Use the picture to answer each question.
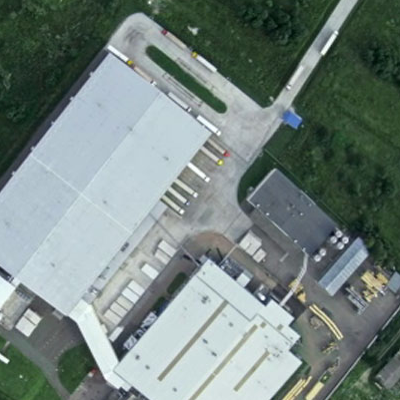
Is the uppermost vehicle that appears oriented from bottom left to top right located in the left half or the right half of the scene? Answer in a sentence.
You can find the uppermost vehicle that appears oriented from bottom left to top right on the right side of the picture.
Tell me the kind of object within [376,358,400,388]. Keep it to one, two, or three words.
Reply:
barn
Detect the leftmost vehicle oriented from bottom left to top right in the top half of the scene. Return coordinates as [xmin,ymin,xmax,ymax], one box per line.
[286,64,305,90]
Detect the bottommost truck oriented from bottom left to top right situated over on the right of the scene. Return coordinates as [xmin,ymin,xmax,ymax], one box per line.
[305,376,328,400]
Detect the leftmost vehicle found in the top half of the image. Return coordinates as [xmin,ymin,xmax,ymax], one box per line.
[109,44,134,67]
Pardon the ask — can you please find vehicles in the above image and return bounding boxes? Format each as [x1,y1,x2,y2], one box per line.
[286,64,305,90]
[168,186,192,207]
[305,376,328,400]
[200,145,225,166]
[186,162,211,184]
[109,44,134,67]
[196,114,223,137]
[326,340,338,352]
[174,178,200,199]
[191,51,218,73]
[132,64,156,86]
[161,28,188,51]
[206,137,230,158]
[161,195,185,215]
[319,30,340,55]
[167,91,192,113]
